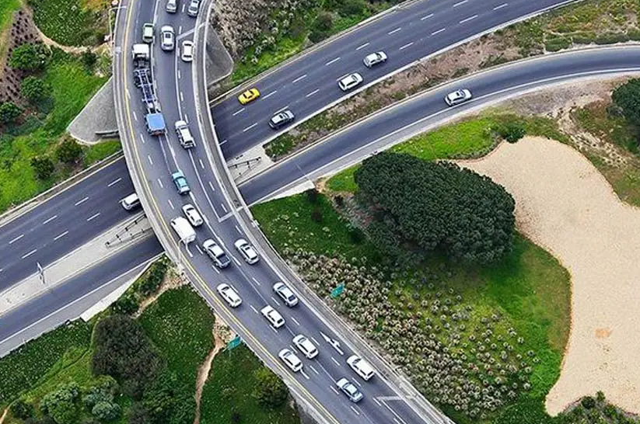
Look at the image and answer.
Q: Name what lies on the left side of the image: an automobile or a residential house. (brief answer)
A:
automobile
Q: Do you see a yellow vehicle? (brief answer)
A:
Yes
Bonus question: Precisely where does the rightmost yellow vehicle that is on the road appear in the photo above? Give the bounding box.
[237,89,261,106]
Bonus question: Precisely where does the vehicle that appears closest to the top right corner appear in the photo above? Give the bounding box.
[444,90,472,106]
